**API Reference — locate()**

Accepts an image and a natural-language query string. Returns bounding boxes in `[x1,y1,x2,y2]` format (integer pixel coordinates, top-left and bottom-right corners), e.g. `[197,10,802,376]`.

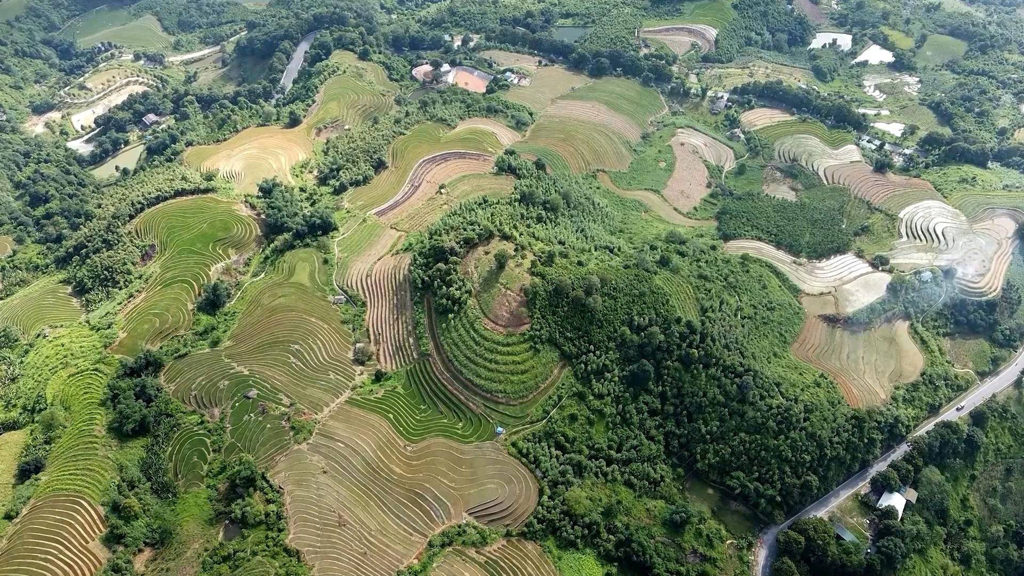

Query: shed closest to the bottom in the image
[829,524,864,552]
